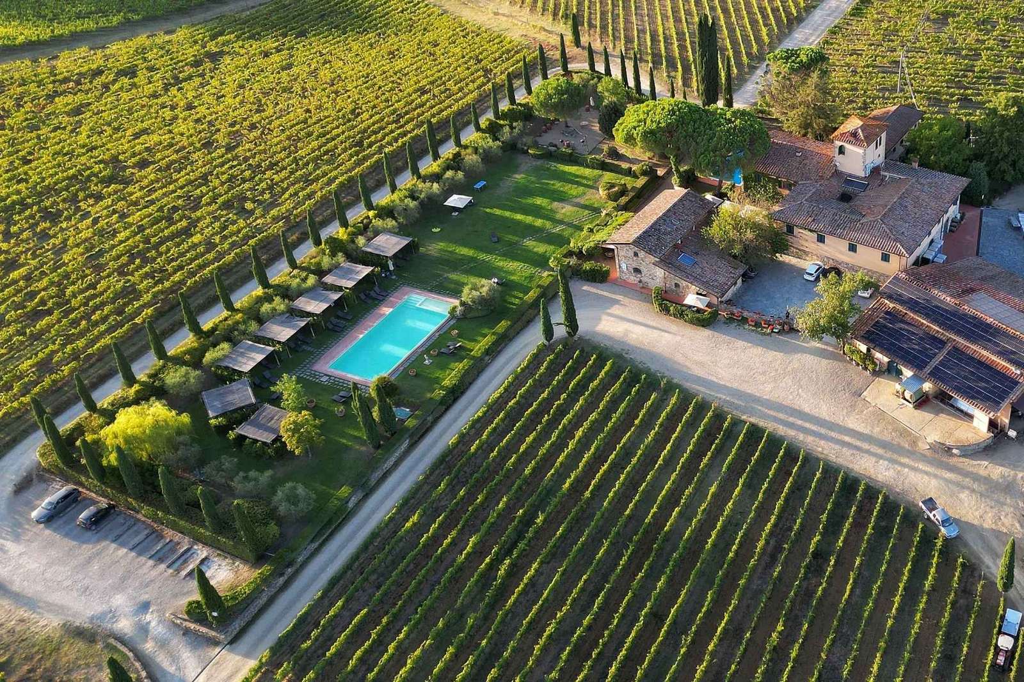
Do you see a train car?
No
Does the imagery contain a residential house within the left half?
No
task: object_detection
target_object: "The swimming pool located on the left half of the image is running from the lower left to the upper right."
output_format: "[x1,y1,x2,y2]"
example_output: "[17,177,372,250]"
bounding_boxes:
[309,286,459,386]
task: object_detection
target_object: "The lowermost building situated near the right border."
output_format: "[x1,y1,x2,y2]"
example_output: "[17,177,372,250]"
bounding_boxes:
[853,246,1024,421]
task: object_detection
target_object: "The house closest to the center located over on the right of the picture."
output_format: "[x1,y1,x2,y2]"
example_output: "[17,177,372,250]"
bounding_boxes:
[598,188,748,303]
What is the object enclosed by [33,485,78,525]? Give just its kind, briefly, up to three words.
car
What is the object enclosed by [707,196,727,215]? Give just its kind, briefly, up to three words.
umbrella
